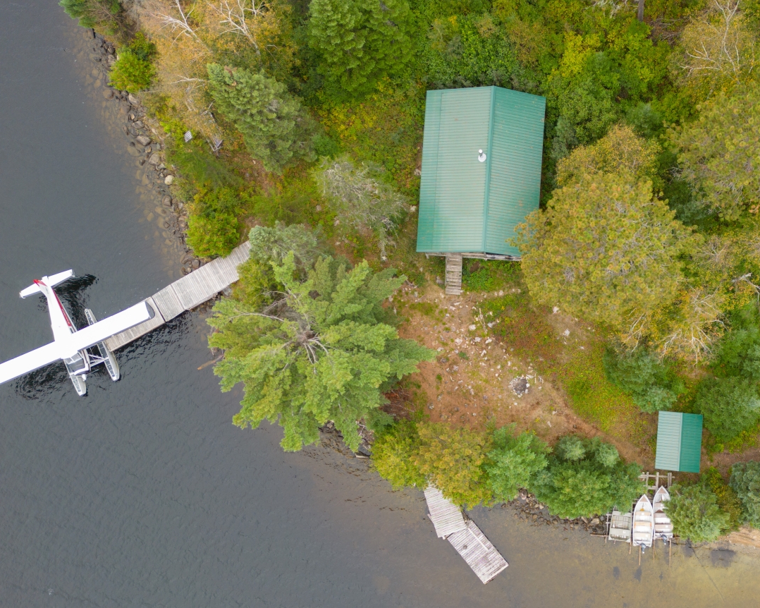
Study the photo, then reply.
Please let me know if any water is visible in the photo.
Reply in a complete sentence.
Yes, there is water in the image.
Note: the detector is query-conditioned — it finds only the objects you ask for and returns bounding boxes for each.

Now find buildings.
[416,85,545,294]
[653,411,703,474]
